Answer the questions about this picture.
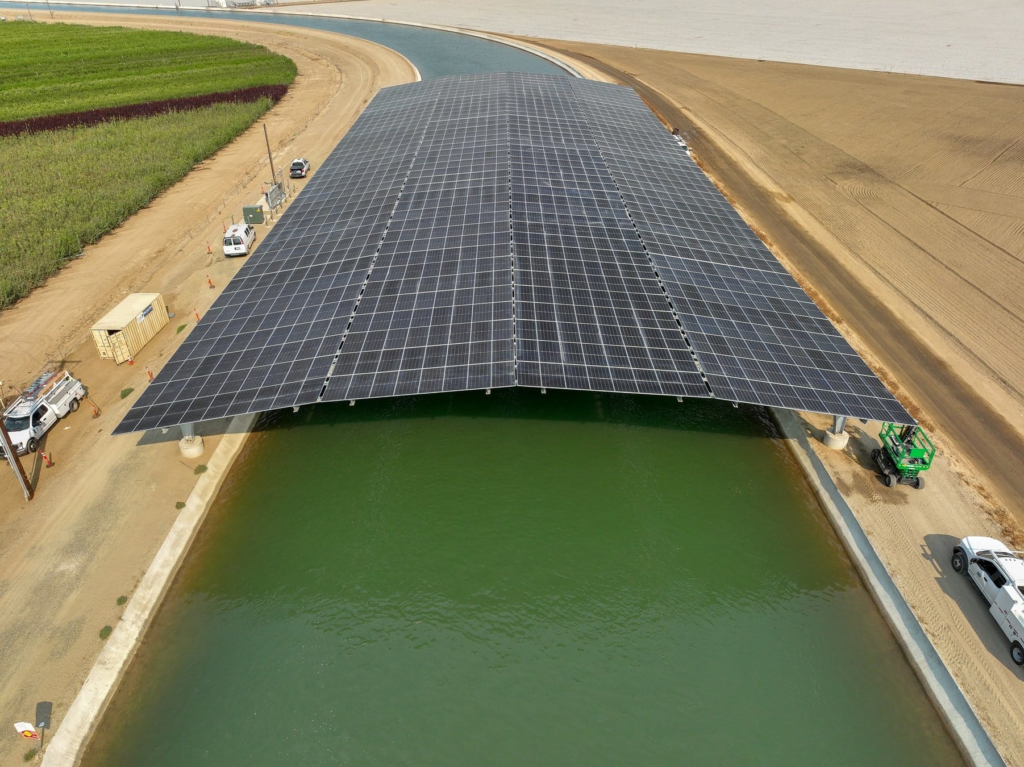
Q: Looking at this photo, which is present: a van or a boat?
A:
van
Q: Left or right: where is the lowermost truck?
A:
right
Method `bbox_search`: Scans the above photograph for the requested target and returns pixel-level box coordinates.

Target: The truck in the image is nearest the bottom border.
[954,539,1024,669]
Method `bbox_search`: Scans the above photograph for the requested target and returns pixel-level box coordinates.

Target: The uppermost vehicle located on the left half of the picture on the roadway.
[289,157,312,177]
